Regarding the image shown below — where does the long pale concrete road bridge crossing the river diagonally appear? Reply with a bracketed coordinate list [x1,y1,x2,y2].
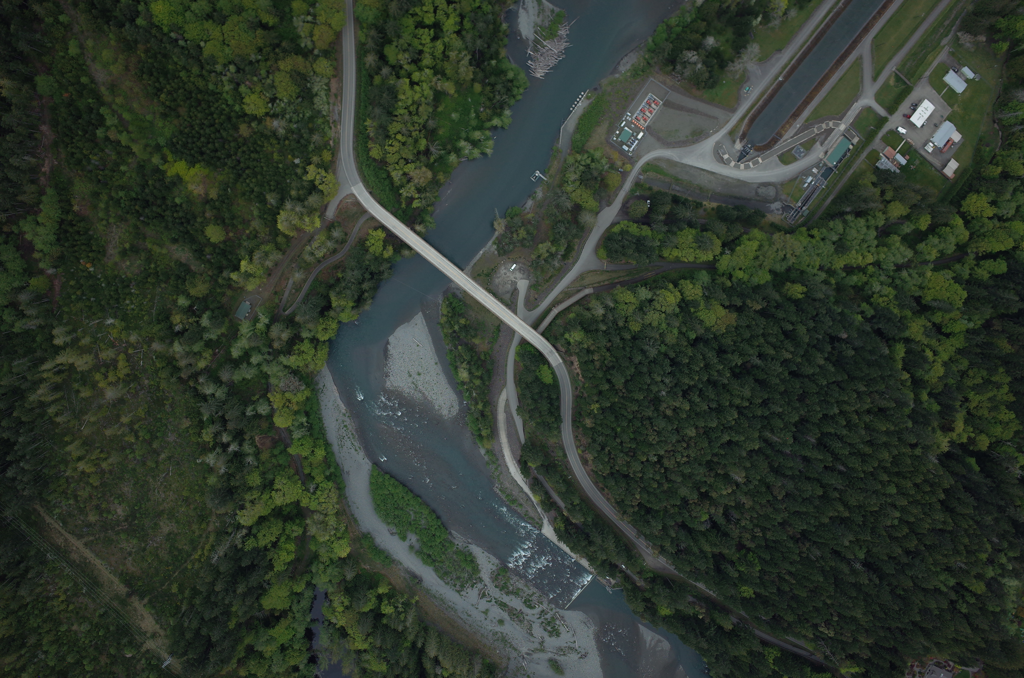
[349,181,565,368]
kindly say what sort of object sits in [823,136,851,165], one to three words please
house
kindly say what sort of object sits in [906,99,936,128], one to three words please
building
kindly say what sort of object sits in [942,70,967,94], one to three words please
house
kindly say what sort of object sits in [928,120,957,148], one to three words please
shed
